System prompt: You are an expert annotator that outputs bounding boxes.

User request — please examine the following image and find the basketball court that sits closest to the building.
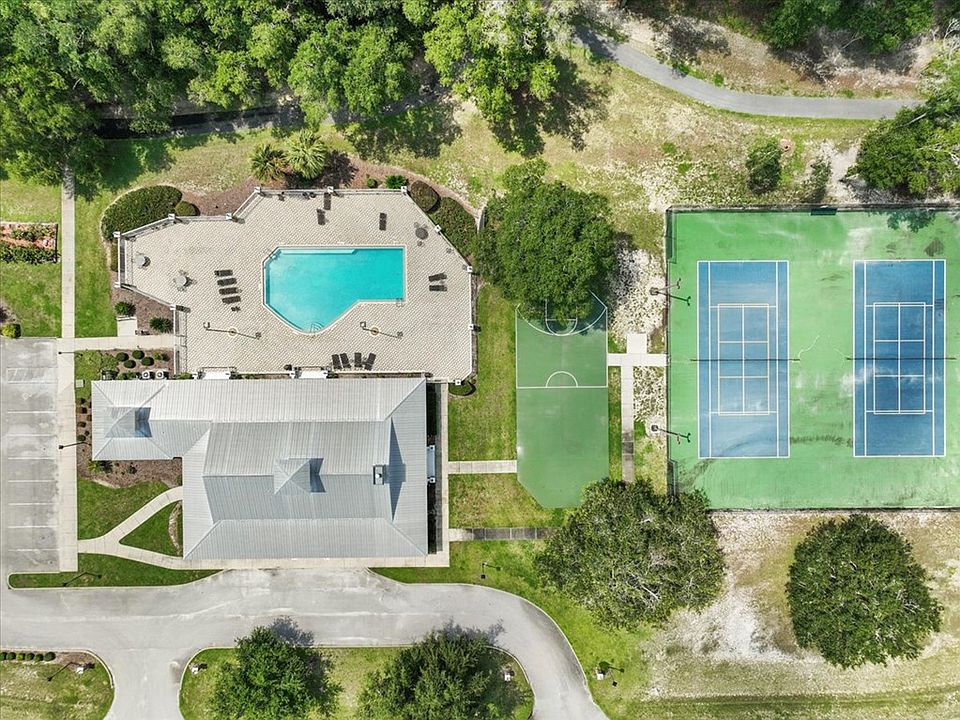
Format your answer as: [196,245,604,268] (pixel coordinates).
[516,291,609,508]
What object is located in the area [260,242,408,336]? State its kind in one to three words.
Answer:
swimming pool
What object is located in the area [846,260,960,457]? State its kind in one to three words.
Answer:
tennis court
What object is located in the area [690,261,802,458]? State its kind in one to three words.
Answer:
tennis court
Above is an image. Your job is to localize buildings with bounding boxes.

[91,377,427,560]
